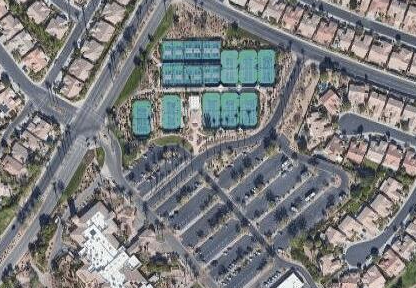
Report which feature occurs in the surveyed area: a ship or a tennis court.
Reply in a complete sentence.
Looking from above, you can make out a tennis court.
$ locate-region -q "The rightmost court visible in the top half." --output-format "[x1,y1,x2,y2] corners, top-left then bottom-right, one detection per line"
[258,50,275,83]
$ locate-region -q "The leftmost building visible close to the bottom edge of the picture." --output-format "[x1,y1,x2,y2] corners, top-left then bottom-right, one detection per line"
[64,201,151,288]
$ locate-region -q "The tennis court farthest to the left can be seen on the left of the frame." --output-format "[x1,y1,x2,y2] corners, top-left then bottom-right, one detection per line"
[132,101,150,138]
